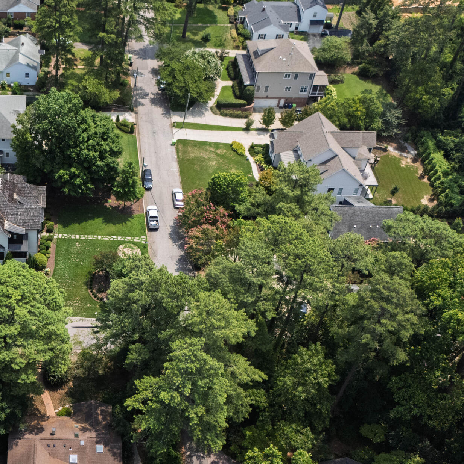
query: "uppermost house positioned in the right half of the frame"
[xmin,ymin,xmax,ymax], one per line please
[233,0,326,39]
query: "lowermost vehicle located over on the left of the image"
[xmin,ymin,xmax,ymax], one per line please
[147,207,161,231]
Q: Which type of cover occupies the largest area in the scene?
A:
trees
